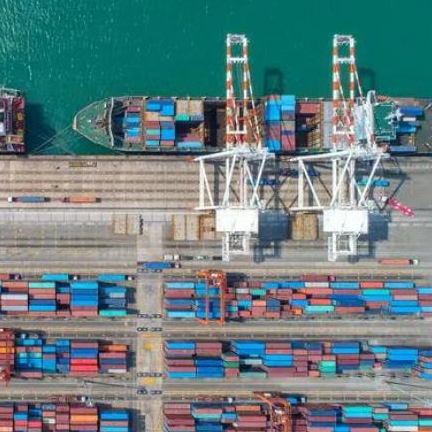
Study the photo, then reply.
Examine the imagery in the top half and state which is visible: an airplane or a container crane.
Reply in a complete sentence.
There is a container crane in the top half.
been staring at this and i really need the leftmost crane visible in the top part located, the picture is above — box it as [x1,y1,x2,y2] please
[186,33,265,263]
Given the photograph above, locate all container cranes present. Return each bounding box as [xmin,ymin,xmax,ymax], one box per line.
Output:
[189,263,225,328]
[0,326,19,391]
[186,33,265,263]
[249,385,289,432]
[279,33,378,263]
